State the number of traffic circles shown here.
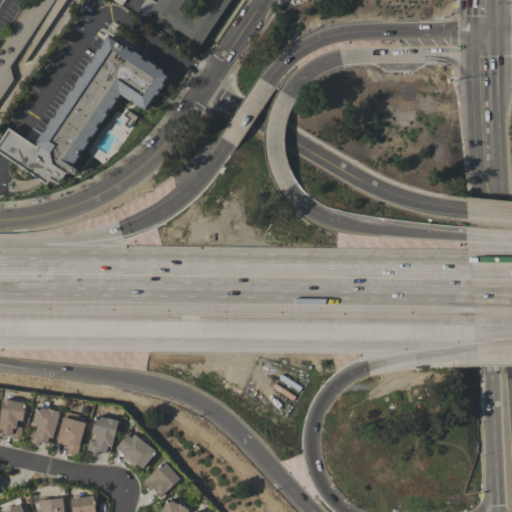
0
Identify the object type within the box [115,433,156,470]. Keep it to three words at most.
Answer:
house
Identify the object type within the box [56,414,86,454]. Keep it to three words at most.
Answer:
house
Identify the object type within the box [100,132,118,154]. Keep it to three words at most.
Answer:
swimming pool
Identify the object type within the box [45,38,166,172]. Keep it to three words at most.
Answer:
building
